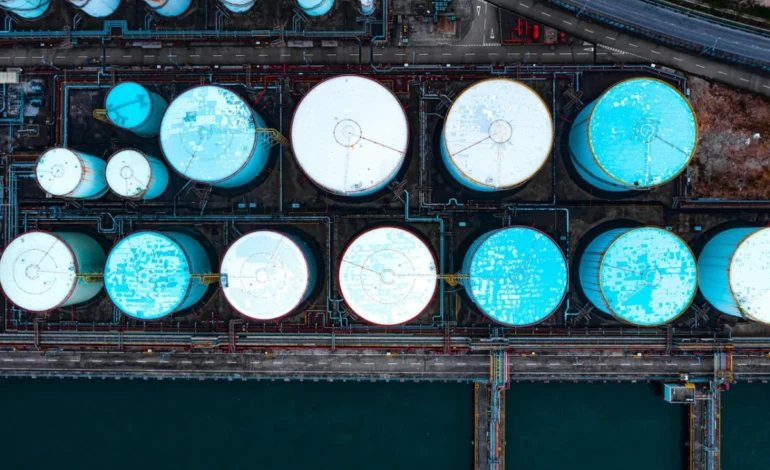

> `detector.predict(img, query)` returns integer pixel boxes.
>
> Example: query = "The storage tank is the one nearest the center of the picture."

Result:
[336,220,441,327]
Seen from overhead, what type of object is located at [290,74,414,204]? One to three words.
storage tank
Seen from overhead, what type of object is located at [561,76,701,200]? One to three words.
storage tank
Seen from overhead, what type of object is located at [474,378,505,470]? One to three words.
pier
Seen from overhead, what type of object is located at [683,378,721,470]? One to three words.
pier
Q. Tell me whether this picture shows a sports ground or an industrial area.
industrial area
